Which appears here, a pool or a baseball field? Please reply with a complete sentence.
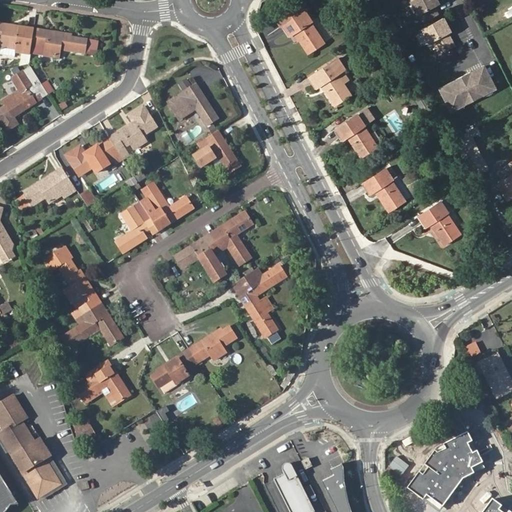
Of the two, only a pool appears.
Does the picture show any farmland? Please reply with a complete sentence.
No, no farmland is visible.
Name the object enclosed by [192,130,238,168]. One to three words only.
house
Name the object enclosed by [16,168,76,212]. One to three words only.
house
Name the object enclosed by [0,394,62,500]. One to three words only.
building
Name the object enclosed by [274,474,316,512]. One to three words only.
building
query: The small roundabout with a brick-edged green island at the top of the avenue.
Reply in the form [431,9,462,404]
[163,0,254,50]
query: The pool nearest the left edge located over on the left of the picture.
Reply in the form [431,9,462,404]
[97,173,120,192]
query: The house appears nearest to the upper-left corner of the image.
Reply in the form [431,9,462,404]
[0,22,34,54]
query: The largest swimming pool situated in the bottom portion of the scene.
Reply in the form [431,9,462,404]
[176,392,199,413]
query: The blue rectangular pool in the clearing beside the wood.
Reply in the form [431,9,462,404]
[386,111,404,136]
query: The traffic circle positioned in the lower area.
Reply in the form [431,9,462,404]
[306,295,444,434]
